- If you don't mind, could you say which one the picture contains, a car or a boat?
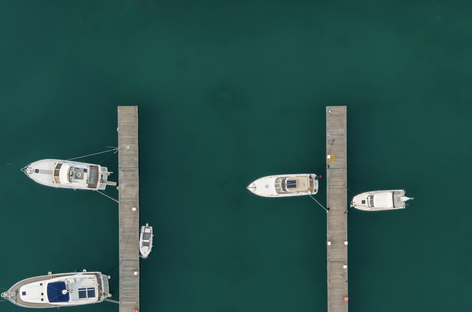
boat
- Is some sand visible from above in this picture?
No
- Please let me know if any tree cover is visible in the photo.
No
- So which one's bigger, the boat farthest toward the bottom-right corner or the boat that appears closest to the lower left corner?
the boat that appears closest to the lower left corner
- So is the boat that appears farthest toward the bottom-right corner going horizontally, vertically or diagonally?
horizontally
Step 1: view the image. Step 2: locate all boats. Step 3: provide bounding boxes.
[139,222,153,258]
[248,174,327,211]
[1,265,119,308]
[22,148,119,202]
[346,187,414,212]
